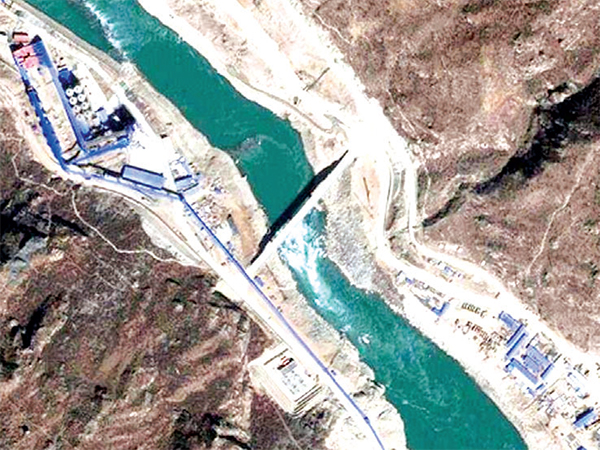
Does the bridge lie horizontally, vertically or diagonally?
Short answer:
diagonally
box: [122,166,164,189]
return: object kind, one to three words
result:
building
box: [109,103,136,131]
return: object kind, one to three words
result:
building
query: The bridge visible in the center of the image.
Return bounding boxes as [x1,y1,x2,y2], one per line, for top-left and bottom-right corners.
[240,136,367,274]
